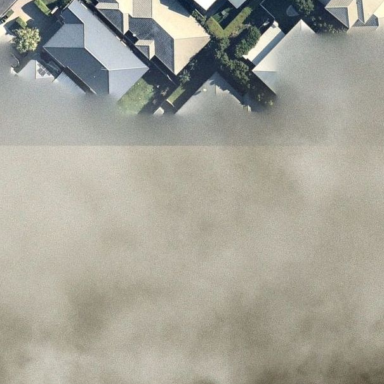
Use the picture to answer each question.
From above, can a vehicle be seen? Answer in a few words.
No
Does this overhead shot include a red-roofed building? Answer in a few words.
No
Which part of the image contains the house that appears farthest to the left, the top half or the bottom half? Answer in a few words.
top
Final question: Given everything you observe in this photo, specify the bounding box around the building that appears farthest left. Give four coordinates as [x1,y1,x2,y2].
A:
[2,61,69,127]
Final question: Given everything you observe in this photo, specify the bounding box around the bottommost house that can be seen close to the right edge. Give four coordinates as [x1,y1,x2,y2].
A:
[253,20,370,139]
